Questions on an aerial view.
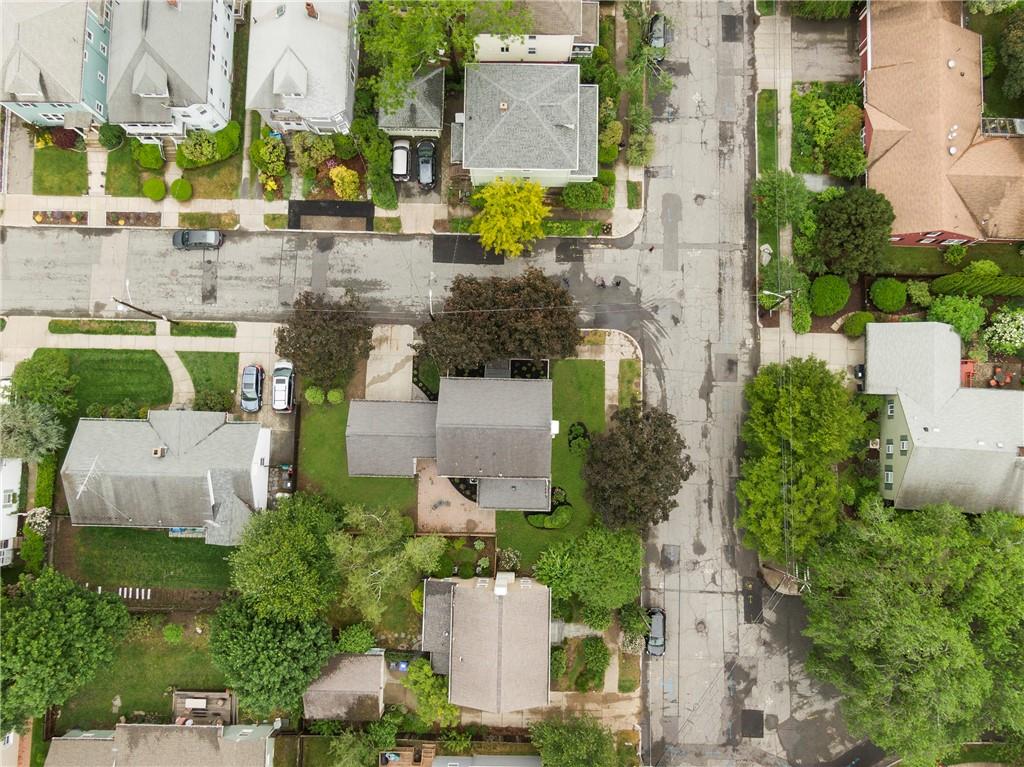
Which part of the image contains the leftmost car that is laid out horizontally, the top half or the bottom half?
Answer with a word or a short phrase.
top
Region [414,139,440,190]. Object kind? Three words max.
car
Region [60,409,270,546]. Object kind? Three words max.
house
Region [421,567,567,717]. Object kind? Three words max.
house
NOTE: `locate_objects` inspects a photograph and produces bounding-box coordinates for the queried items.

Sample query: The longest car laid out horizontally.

[174,226,225,251]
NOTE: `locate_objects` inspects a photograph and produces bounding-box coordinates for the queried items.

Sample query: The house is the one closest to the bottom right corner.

[862,322,1024,510]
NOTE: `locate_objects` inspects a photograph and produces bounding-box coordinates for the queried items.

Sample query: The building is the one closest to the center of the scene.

[345,354,560,512]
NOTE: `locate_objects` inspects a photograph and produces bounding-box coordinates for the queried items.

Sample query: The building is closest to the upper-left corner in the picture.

[0,0,112,150]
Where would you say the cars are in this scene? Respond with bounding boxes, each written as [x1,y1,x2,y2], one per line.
[645,606,669,658]
[392,140,412,183]
[270,360,296,413]
[174,226,225,251]
[414,139,440,190]
[238,363,266,413]
[646,12,670,62]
